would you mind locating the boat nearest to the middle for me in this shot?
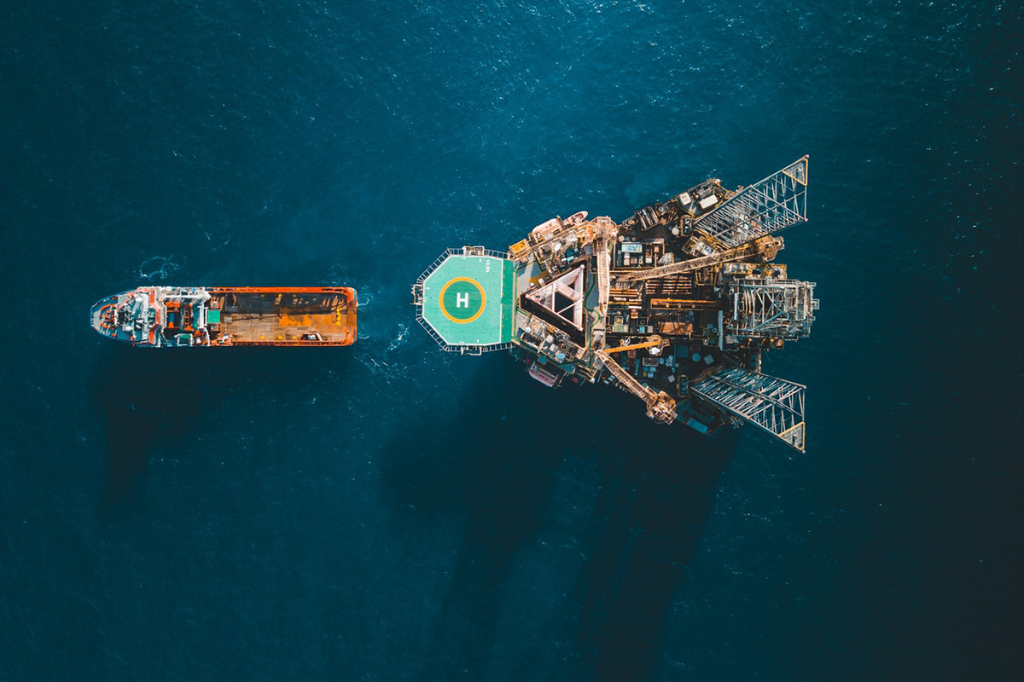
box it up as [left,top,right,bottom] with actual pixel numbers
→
[530,370,555,386]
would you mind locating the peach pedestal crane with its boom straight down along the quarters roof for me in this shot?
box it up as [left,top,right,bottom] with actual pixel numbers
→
[593,214,613,321]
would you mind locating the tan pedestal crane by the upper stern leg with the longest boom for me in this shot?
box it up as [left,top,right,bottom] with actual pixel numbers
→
[617,235,783,285]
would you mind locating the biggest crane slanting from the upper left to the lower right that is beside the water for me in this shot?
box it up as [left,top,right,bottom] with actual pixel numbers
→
[593,348,681,424]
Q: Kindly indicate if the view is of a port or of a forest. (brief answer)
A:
port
